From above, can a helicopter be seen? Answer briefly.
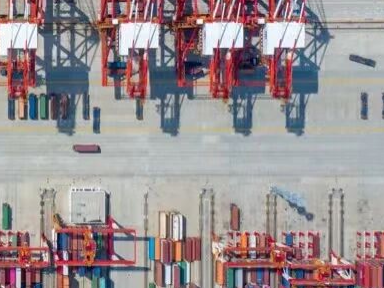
No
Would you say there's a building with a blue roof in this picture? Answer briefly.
No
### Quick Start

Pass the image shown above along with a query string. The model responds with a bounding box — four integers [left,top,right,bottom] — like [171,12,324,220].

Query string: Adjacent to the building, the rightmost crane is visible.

[52,214,141,267]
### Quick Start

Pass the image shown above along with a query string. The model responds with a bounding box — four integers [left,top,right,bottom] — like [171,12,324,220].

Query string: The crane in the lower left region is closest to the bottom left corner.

[0,231,51,266]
